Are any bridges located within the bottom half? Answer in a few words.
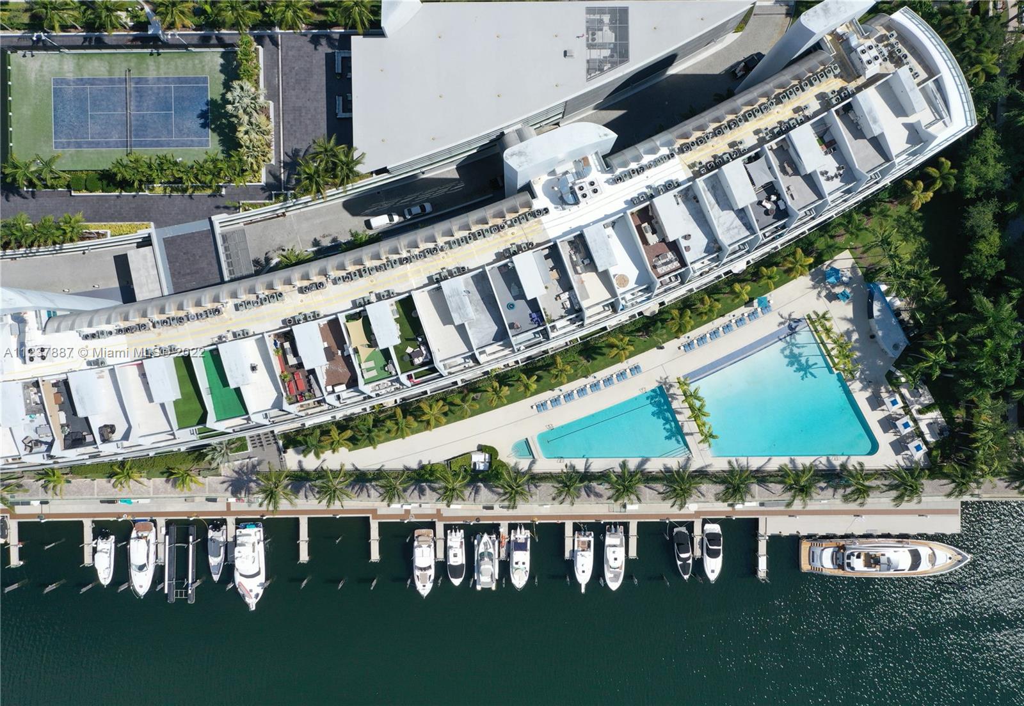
No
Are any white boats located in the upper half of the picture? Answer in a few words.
No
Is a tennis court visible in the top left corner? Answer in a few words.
Yes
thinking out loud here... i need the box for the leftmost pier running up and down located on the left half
[4,520,24,568]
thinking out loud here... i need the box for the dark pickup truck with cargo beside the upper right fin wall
[731,52,764,81]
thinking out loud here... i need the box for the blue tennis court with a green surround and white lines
[8,52,239,173]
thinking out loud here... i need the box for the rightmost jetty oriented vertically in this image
[754,533,771,583]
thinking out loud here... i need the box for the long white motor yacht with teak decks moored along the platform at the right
[796,537,970,577]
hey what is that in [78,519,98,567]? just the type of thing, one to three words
pier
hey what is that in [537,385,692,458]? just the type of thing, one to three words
swimming pool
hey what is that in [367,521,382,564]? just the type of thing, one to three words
pier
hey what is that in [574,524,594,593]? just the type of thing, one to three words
boat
